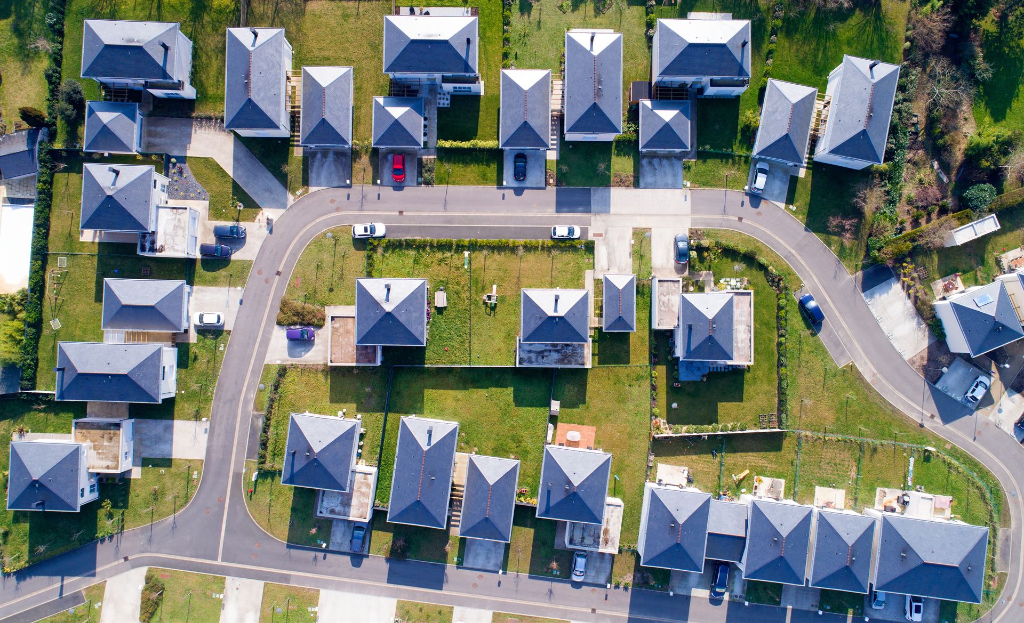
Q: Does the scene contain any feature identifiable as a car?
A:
Yes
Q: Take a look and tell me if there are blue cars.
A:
Yes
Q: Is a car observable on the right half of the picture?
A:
Yes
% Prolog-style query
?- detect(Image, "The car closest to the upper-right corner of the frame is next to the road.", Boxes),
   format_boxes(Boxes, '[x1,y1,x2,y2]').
[750,161,770,194]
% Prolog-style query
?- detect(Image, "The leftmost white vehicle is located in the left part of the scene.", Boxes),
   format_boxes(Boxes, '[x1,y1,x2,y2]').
[193,311,224,327]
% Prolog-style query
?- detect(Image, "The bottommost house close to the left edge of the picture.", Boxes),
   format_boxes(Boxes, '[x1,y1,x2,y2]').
[8,417,133,512]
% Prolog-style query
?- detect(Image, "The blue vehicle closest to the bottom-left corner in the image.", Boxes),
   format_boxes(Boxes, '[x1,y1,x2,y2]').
[350,522,368,554]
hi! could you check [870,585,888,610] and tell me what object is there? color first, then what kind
blue car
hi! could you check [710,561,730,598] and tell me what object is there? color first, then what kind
blue vehicle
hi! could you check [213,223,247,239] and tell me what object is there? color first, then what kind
blue car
